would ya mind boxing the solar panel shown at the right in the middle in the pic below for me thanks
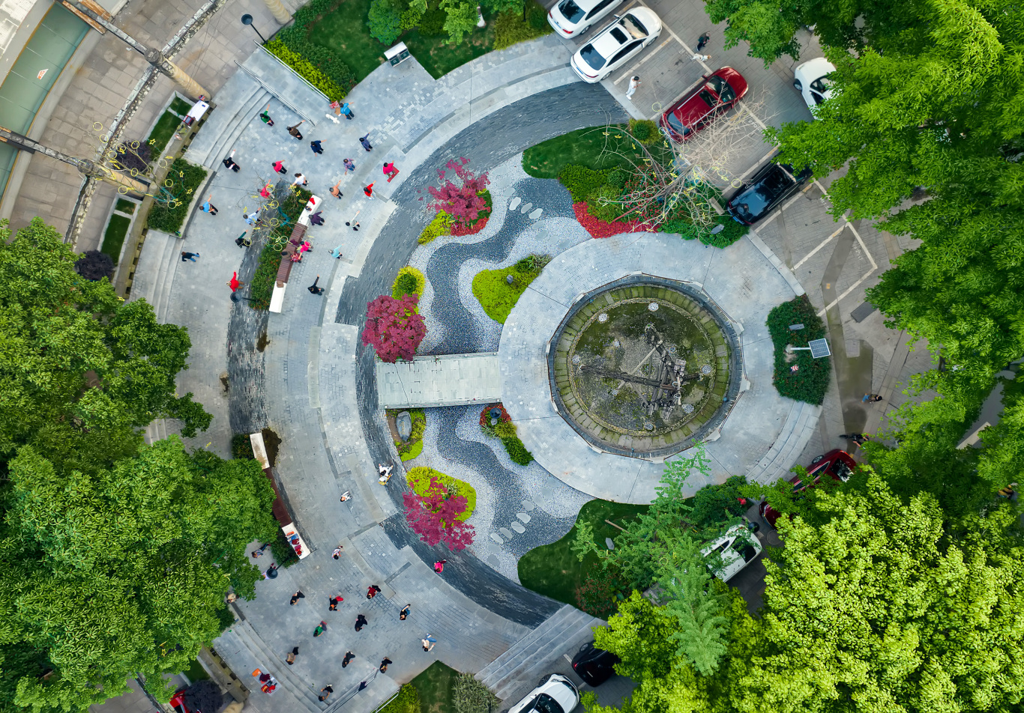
[807,337,831,359]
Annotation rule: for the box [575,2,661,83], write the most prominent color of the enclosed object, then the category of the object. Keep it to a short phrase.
white car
